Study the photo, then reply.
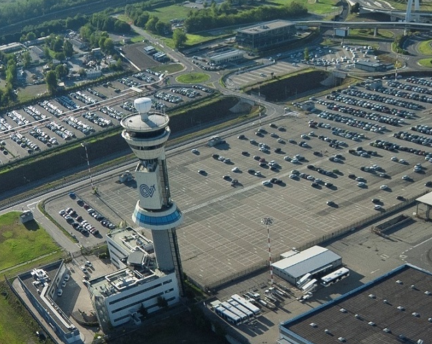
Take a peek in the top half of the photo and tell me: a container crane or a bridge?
bridge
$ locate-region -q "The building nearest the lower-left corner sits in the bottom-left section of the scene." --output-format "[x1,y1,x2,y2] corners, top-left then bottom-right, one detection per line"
[18,260,82,344]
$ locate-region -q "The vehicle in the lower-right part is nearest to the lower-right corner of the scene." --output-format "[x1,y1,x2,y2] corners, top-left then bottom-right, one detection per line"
[320,265,349,284]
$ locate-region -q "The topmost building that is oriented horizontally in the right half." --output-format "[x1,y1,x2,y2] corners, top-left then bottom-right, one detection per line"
[238,20,295,49]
